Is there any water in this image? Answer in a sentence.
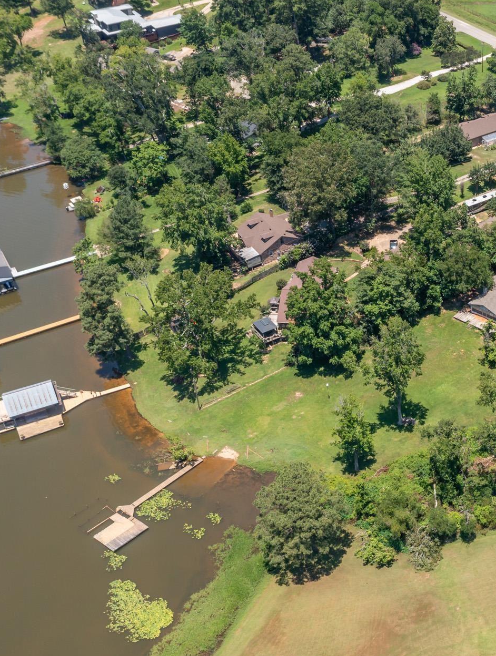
Yes, there is water in the image.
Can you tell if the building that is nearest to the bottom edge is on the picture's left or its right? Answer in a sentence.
You can find the building that is nearest to the bottom edge on the left side of the picture.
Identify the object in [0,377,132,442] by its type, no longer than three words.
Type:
building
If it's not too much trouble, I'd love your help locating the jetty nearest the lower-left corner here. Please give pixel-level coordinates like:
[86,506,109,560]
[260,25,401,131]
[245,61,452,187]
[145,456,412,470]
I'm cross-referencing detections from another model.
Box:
[78,457,204,553]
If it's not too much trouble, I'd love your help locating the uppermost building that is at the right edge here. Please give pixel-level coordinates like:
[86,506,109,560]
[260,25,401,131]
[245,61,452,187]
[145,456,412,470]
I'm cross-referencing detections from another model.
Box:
[439,112,496,148]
